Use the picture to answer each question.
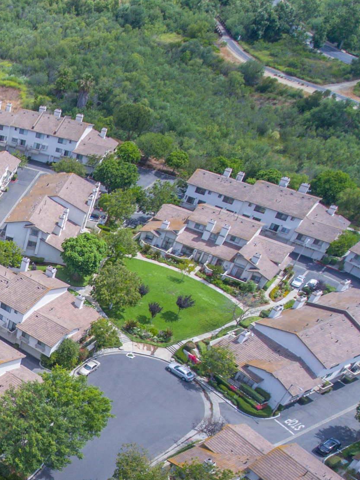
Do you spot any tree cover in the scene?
Yes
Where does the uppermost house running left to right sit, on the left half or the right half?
left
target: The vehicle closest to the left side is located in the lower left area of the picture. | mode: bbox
[78,359,100,375]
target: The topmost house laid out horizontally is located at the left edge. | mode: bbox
[0,101,127,175]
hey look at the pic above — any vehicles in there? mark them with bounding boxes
[304,276,321,287]
[78,359,100,375]
[314,437,340,456]
[165,365,196,382]
[291,273,306,287]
